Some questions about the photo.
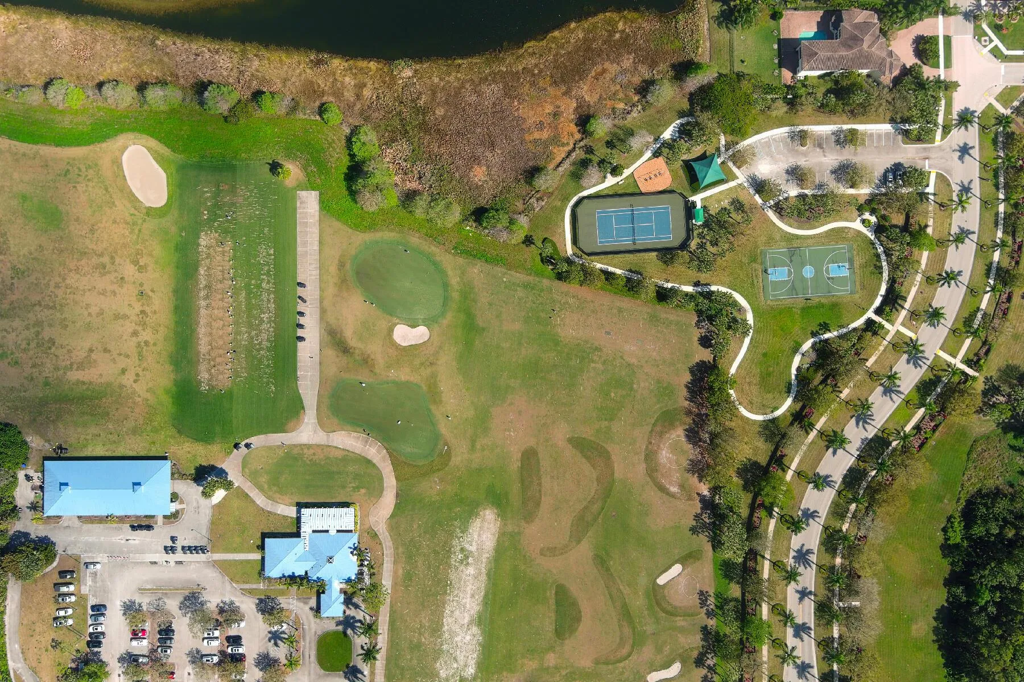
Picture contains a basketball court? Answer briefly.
Yes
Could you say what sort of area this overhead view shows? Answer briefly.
golf course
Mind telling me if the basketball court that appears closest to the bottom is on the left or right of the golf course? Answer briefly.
right of it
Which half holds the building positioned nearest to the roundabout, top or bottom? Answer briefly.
bottom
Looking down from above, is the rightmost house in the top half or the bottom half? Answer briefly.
top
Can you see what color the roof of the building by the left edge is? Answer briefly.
blue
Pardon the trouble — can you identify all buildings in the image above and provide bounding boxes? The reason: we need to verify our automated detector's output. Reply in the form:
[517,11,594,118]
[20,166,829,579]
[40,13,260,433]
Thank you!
[265,507,358,617]
[795,10,904,87]
[44,460,178,516]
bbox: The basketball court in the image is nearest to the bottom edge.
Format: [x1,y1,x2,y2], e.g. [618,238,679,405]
[763,244,856,300]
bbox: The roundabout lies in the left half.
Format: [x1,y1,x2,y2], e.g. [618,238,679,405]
[316,629,353,673]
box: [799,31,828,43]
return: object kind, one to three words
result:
swimming pool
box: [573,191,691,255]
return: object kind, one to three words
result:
tennis court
